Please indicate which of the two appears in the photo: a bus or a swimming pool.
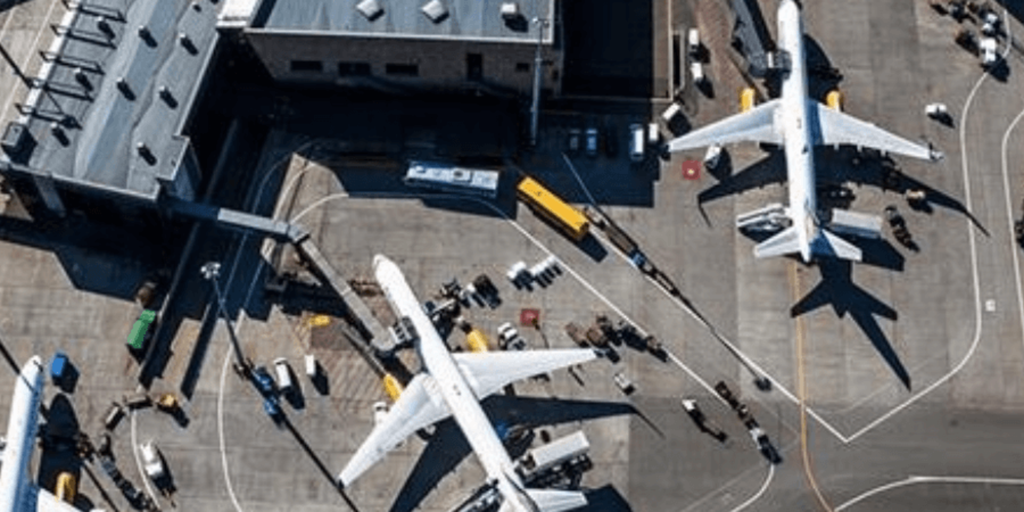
bus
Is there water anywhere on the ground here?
No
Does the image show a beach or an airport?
airport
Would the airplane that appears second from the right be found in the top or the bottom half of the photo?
bottom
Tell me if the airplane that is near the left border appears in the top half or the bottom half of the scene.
bottom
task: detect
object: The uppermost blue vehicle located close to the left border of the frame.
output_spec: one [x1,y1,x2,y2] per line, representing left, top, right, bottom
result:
[50,353,75,387]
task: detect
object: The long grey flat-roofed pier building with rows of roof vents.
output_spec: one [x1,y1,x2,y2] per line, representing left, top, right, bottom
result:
[0,0,233,239]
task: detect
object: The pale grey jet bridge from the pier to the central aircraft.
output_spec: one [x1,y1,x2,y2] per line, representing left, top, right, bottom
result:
[165,200,418,369]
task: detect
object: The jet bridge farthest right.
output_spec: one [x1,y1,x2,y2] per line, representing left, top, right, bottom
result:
[726,0,795,89]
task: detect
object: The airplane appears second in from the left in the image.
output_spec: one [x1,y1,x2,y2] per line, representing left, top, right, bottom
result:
[336,254,610,512]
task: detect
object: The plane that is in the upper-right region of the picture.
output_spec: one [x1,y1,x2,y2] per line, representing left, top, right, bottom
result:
[665,0,946,265]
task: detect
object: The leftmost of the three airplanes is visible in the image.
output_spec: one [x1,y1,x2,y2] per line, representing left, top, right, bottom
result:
[0,357,77,512]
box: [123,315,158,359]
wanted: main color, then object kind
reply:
green truck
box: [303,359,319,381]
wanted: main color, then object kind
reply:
white vehicle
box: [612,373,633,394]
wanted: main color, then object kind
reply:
gray car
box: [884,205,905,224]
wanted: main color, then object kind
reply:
gray work vehicle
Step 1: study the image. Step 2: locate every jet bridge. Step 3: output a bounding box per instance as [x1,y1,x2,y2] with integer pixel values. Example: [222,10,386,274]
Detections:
[165,200,418,369]
[726,0,795,89]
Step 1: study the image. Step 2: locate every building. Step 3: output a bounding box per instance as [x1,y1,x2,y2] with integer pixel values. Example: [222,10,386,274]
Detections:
[0,0,233,239]
[245,0,557,98]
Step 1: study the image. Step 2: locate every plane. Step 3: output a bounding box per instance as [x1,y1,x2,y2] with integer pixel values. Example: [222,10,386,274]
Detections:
[336,254,610,512]
[665,0,946,265]
[0,357,77,512]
